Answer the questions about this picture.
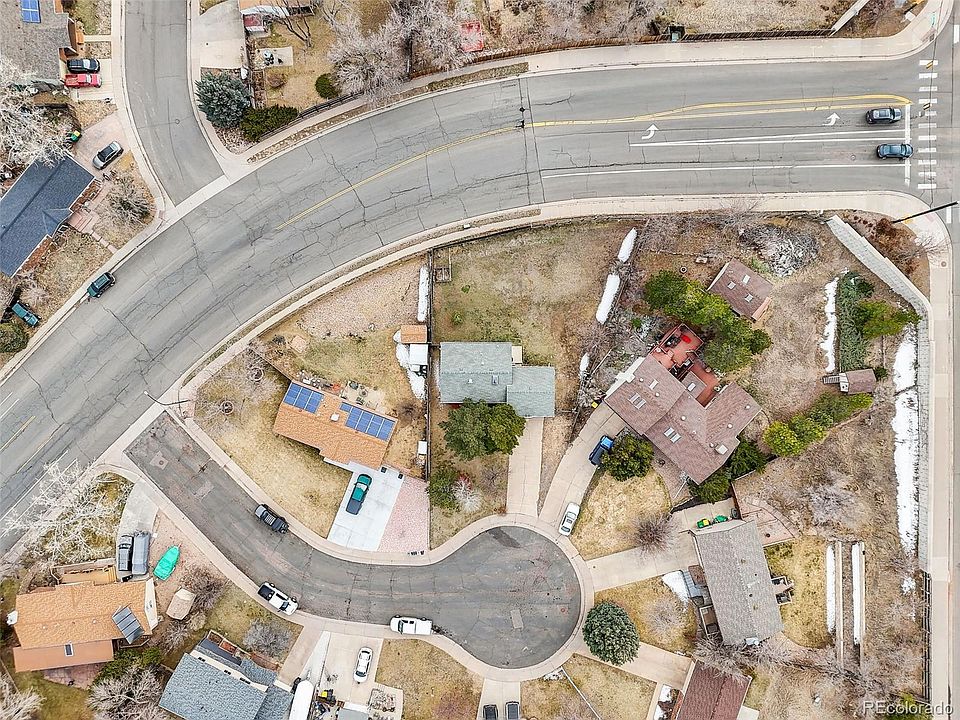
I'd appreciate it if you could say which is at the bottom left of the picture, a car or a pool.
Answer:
car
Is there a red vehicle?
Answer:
Yes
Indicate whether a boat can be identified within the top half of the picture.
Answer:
No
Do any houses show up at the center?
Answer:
Yes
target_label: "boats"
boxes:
[152,542,182,581]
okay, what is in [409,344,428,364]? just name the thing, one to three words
shed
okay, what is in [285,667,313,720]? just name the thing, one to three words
trailer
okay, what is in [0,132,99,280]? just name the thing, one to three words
house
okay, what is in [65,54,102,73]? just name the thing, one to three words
car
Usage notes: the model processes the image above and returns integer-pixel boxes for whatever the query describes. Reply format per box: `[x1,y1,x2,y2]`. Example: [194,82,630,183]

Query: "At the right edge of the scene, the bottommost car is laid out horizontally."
[875,142,912,160]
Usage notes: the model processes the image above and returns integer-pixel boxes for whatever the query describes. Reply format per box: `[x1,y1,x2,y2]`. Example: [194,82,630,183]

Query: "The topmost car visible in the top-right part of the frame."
[864,106,902,126]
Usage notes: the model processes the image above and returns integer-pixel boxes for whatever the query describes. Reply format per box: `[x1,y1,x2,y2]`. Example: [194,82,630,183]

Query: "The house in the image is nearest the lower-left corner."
[3,576,160,672]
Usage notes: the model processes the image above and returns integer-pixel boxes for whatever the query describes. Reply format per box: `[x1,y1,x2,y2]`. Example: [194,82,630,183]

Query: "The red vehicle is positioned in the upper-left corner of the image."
[65,70,104,90]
